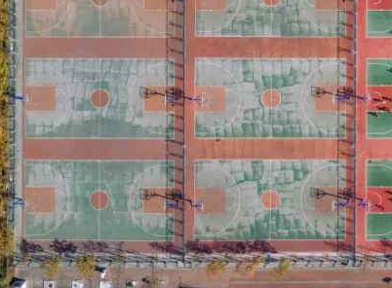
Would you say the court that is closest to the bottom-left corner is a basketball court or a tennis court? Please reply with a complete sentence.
I'd identify the court that is closest to the bottom-left corner as a basketball court.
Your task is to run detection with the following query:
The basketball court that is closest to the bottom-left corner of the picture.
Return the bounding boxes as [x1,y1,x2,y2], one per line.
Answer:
[26,160,175,241]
